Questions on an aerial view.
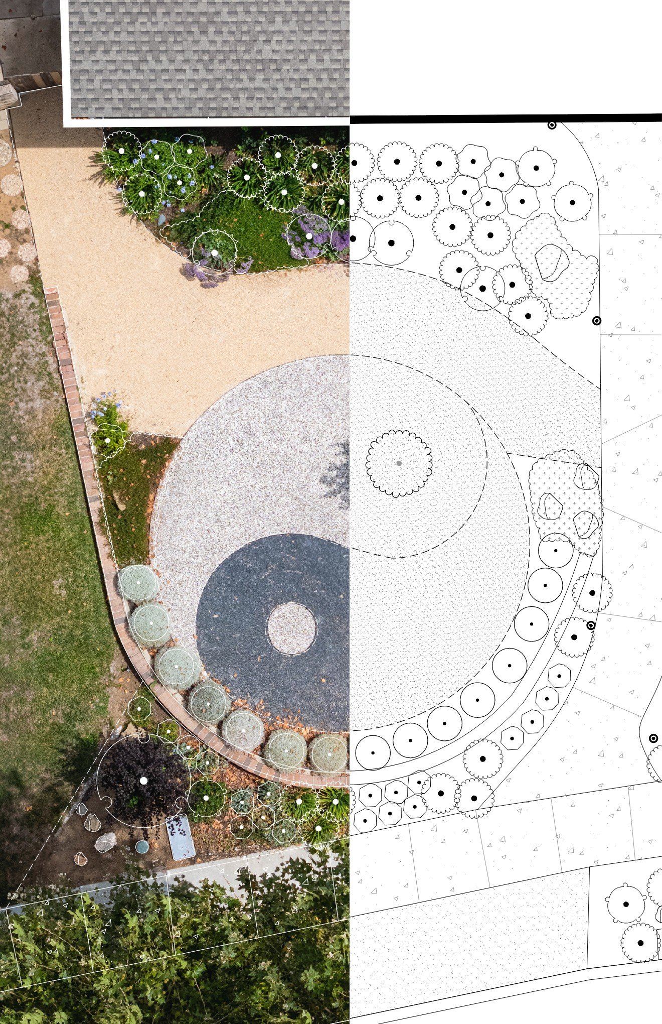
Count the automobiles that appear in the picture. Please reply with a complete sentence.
The picture shows no automobiles.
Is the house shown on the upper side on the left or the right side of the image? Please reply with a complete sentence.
You can find the house shown on the upper side on the left side of the picture.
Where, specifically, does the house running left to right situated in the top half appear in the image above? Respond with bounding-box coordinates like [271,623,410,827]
[60,0,350,128]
